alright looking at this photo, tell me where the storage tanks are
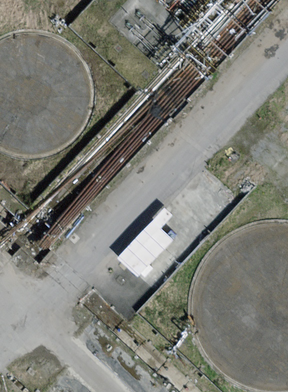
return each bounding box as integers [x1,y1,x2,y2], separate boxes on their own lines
[188,219,288,392]
[0,30,94,158]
